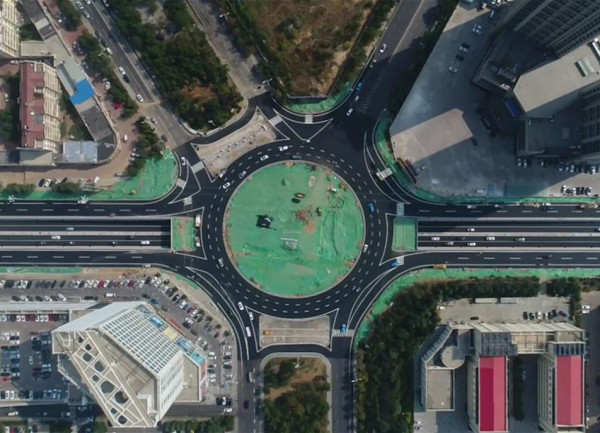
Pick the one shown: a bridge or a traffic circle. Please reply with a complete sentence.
Visible in the photo is a traffic circle.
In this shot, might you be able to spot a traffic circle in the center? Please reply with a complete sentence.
Yes, a traffic circle is visible in the center.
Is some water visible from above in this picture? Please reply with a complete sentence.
No, water can't be seen anywhere here.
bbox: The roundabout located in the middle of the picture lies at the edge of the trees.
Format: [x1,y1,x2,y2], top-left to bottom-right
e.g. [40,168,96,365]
[201,138,387,321]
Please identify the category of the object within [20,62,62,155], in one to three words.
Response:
building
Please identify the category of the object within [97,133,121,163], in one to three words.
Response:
building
